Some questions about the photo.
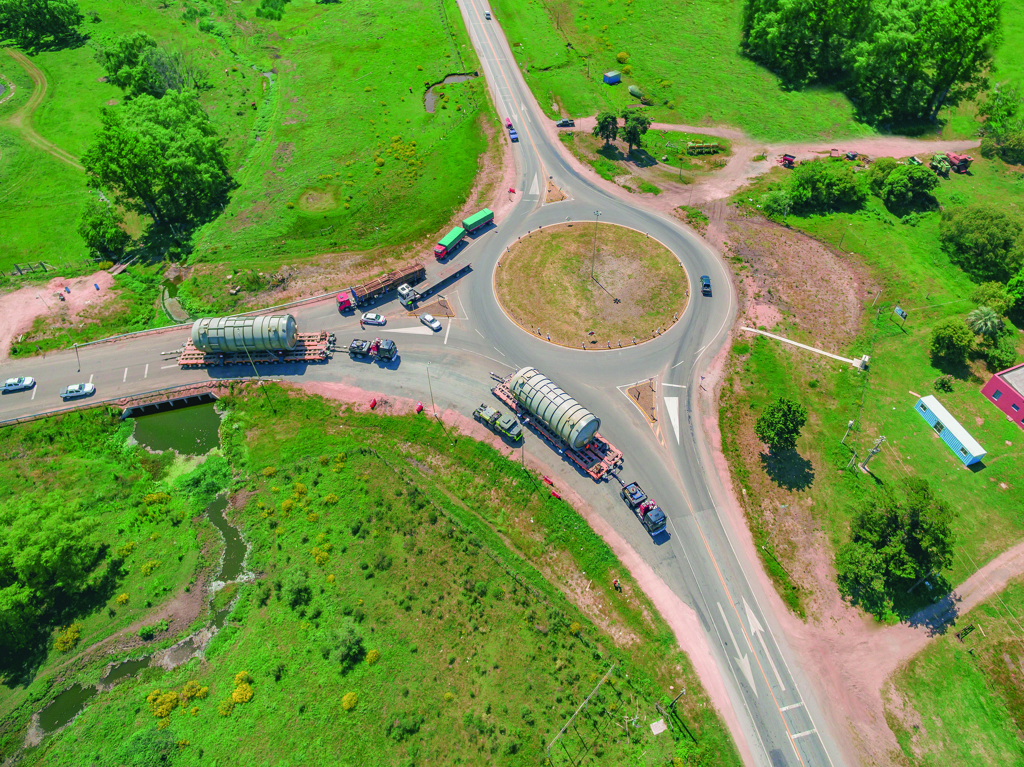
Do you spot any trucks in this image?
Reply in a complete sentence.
Yes, the picture does show a truck.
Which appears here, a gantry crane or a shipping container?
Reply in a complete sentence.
Visible in the photo is a shipping container.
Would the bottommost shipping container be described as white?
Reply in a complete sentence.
Yes, white is the color of the bottommost shipping container.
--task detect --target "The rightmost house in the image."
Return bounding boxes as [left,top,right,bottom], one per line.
[981,364,1024,429]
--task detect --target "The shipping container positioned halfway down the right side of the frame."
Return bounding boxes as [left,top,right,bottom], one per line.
[915,394,989,466]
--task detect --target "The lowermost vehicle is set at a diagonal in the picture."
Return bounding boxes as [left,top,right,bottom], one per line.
[618,481,672,539]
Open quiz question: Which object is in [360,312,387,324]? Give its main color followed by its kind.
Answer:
white vehicle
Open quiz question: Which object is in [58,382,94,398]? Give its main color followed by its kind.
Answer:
white vehicle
